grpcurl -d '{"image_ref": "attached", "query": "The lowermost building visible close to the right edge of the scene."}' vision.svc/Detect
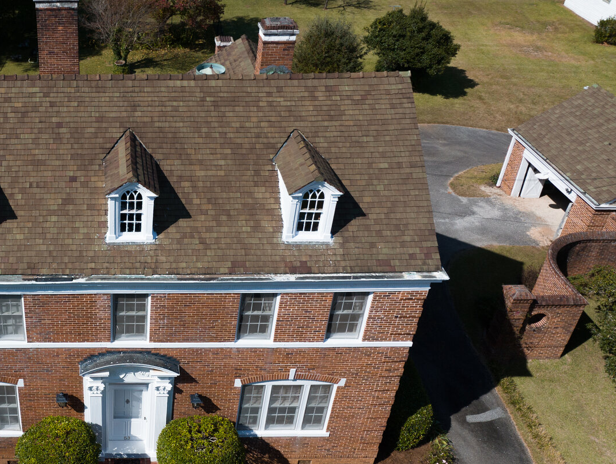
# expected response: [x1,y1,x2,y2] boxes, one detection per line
[495,83,616,240]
